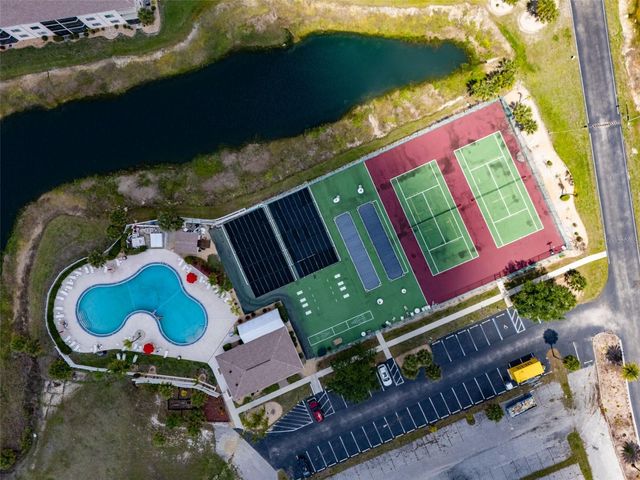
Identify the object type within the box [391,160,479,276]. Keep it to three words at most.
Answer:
tennis court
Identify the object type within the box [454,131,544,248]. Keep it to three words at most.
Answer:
tennis court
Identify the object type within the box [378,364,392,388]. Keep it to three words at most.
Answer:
car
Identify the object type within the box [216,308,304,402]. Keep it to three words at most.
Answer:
building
